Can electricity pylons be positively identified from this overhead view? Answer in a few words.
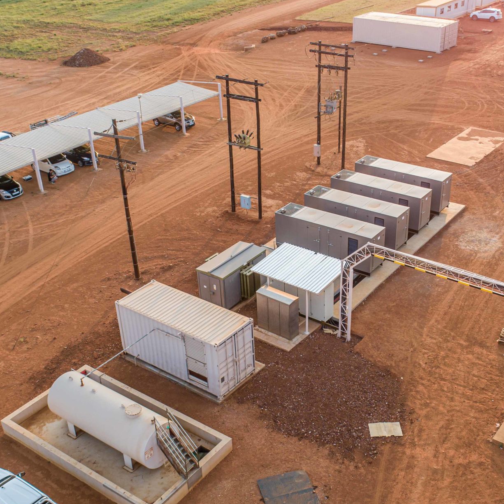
Yes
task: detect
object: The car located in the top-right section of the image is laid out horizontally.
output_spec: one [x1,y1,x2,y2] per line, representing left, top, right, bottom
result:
[470,7,503,22]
